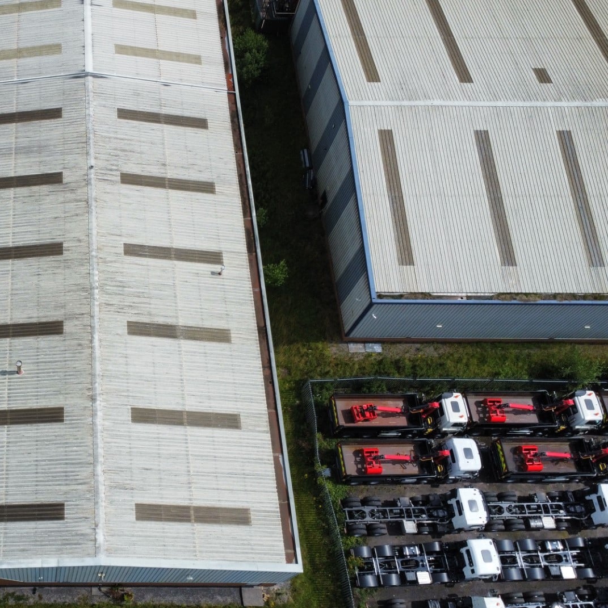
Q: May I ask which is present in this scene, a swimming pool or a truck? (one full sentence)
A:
This aerial view contains a truck.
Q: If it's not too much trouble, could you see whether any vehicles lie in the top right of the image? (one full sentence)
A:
No, the scene shows no vehicle in the top right of the image.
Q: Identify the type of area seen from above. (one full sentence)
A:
The picture captures an industrial area.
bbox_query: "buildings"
[0,0,302,588]
[292,0,608,340]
